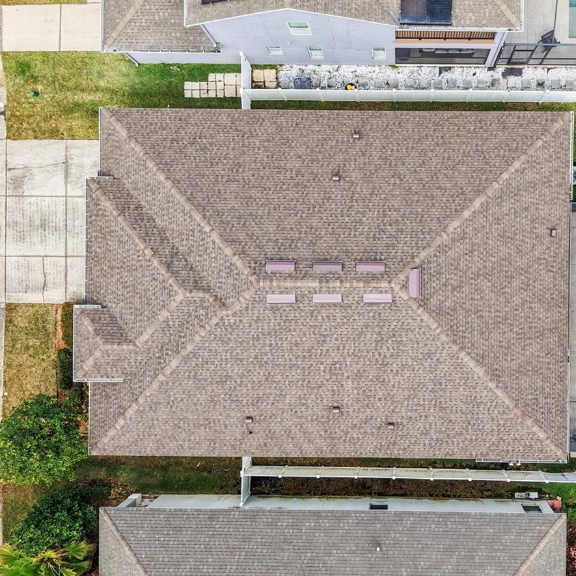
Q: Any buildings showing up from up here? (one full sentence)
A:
Yes, there's a building down there.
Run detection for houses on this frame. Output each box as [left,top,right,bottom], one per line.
[100,0,526,73]
[71,106,575,464]
[98,489,568,576]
